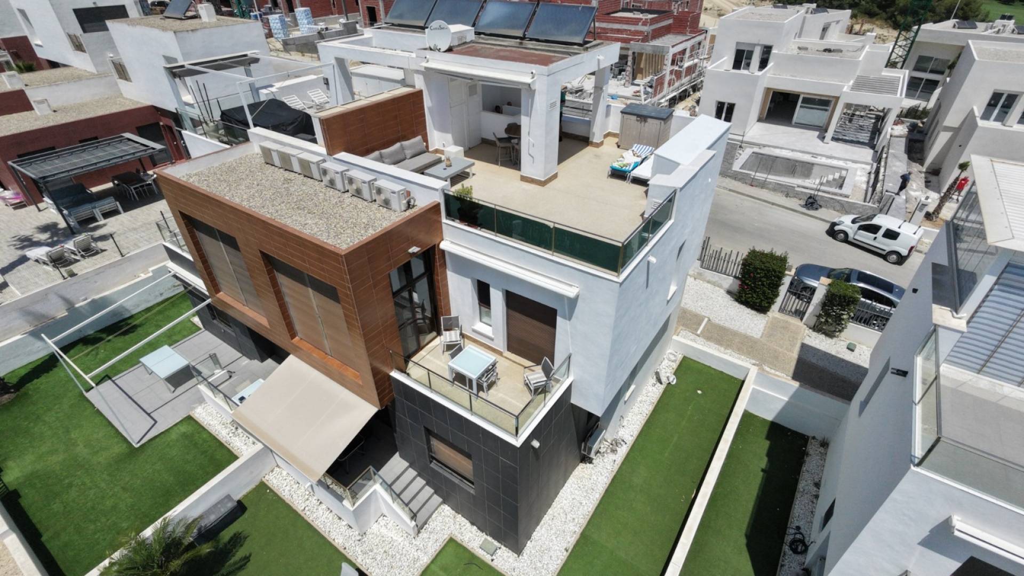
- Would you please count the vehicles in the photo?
two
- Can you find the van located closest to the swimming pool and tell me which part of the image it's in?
right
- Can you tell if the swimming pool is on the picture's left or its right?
right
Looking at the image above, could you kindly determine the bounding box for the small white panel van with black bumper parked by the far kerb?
[830,214,934,267]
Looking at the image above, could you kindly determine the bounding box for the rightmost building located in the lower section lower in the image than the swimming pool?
[803,186,1024,576]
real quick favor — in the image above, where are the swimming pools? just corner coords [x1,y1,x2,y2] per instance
[731,149,857,196]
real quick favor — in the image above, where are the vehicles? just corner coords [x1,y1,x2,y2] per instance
[789,266,908,329]
[830,214,934,267]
